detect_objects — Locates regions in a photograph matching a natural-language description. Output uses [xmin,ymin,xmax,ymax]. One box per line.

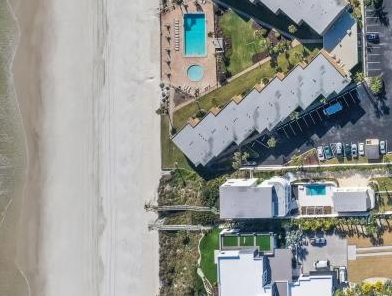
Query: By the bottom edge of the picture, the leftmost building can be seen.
[218,227,294,296]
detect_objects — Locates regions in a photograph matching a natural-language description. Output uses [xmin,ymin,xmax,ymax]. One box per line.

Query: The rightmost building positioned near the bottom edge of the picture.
[292,268,336,296]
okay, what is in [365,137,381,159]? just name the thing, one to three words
shed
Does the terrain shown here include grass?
Yes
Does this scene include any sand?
Yes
